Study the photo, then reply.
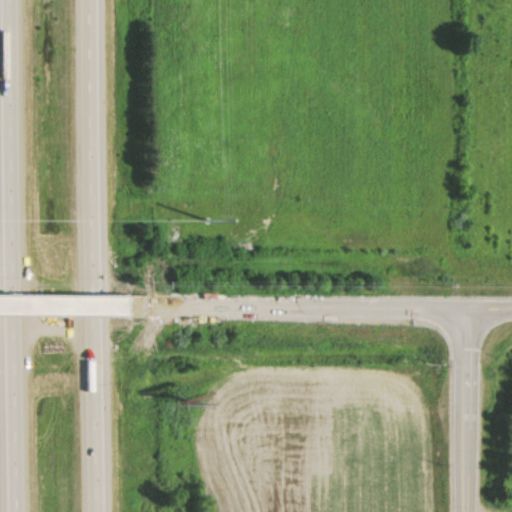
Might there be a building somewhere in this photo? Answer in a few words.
No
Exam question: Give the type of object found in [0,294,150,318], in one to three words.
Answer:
overpass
